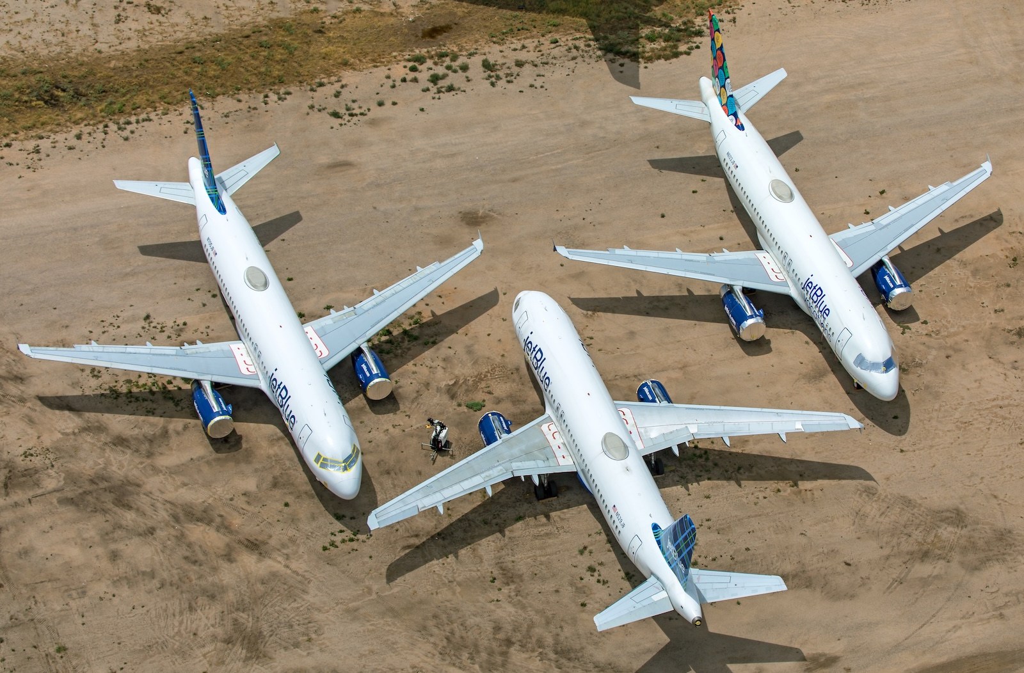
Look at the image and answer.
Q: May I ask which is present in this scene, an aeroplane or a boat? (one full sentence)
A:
It is an aeroplane that can be seen here.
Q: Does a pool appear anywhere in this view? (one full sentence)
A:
No, this view has no pool in it.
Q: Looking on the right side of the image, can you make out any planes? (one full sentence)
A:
Yes, I can see a plane on the right side of the image.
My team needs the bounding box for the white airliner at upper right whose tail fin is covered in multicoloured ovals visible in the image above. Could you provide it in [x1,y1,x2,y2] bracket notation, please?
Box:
[553,11,993,400]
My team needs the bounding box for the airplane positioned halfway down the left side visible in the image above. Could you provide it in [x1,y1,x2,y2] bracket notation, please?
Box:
[16,93,484,497]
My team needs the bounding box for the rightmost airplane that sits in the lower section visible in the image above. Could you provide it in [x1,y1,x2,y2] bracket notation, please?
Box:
[368,287,863,632]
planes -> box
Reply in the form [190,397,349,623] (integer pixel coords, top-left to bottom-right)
[368,287,863,632]
[553,11,993,400]
[16,93,484,497]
